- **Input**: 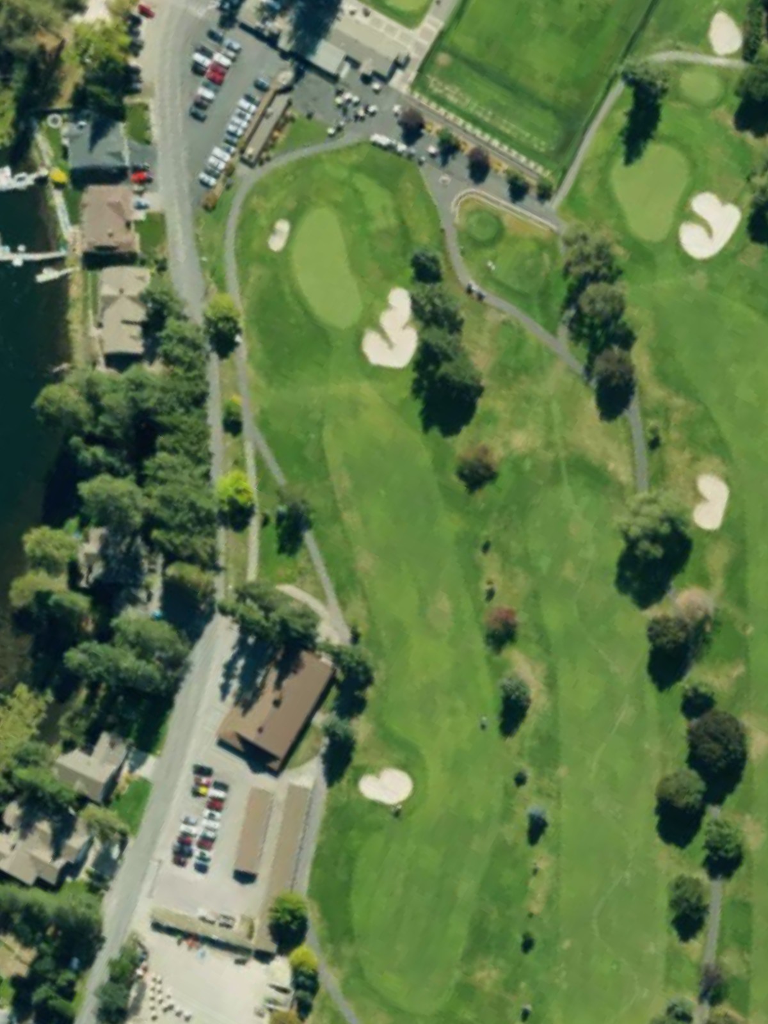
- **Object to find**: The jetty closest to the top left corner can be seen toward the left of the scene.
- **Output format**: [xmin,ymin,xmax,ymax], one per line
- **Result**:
[0,165,51,195]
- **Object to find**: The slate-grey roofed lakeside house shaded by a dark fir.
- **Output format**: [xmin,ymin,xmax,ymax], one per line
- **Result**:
[66,120,130,168]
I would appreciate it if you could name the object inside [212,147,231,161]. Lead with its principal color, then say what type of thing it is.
white vehicle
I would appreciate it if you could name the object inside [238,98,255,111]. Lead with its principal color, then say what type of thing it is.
white vehicle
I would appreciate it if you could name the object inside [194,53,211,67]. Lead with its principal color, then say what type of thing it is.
white car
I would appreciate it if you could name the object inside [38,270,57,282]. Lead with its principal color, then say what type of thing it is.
white boat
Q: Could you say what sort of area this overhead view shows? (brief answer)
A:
golf course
